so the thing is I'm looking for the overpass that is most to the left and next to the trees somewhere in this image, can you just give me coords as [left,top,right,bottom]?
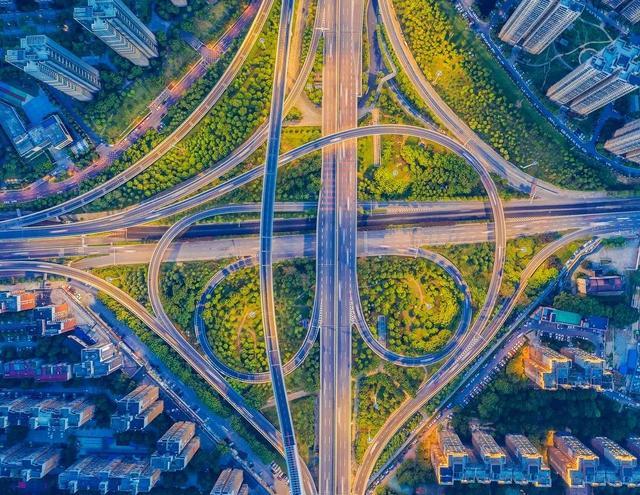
[259,0,302,495]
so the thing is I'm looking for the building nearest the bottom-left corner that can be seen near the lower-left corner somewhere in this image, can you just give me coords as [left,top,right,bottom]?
[0,445,60,482]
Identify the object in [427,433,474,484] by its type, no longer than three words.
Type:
building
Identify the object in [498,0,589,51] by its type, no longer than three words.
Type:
building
